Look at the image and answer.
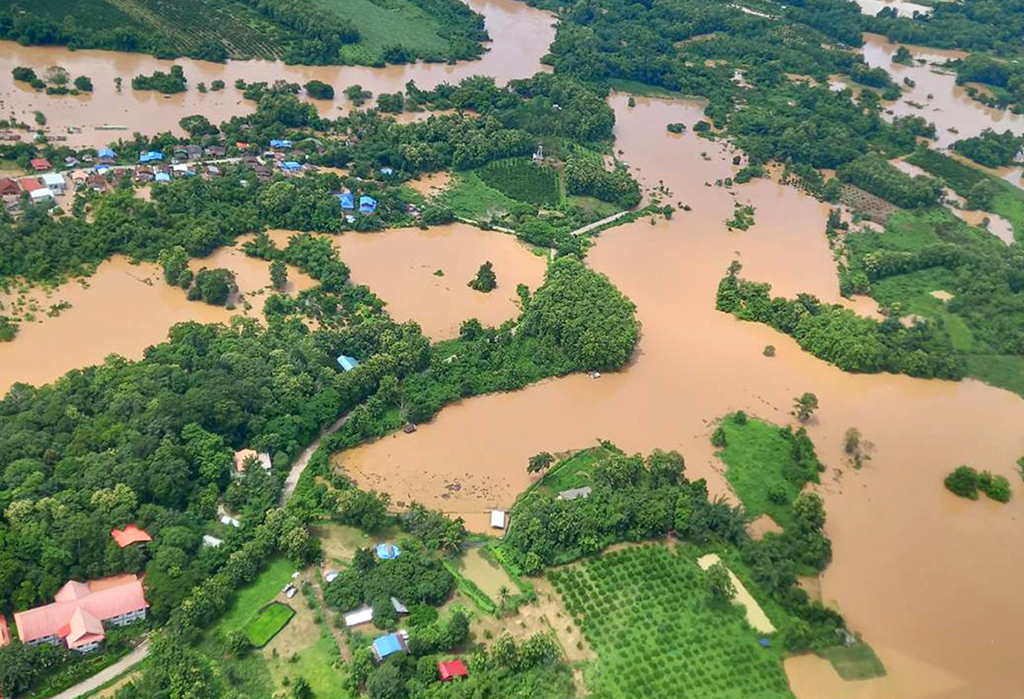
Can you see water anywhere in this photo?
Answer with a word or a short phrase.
Yes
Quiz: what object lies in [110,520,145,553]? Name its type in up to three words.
house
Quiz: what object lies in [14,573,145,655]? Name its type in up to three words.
building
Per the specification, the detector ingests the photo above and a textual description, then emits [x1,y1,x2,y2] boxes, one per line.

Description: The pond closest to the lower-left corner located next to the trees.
[453,547,524,604]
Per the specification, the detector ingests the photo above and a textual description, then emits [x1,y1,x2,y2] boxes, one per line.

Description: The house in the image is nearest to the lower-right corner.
[557,481,591,502]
